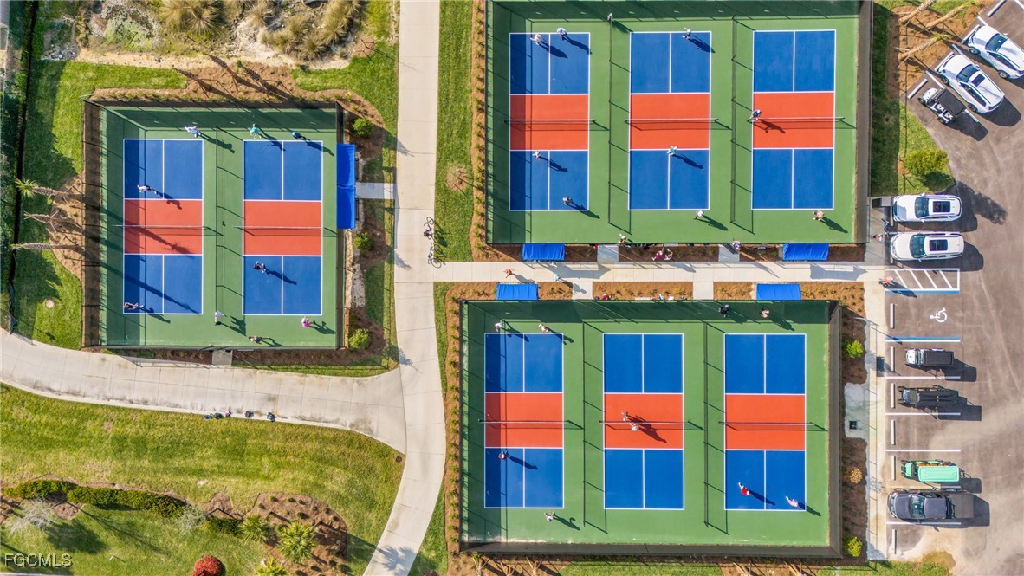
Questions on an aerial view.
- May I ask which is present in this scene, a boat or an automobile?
automobile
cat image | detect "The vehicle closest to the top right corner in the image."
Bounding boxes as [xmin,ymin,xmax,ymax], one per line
[967,22,1024,78]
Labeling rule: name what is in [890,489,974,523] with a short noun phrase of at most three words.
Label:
truck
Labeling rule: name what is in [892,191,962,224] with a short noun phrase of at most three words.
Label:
car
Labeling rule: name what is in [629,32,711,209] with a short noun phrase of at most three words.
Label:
sports court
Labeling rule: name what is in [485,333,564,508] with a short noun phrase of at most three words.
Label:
sports court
